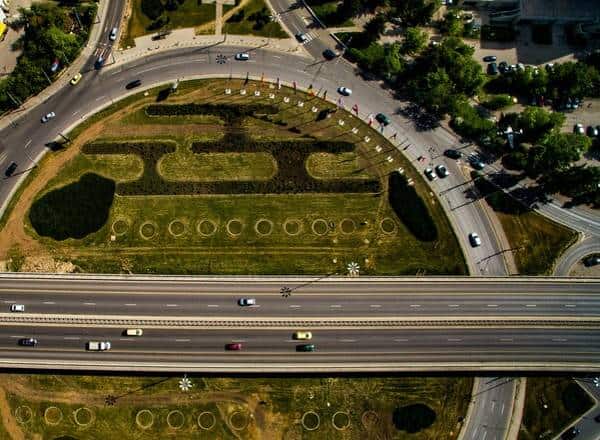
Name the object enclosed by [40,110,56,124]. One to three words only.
vehicle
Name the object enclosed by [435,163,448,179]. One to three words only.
vehicle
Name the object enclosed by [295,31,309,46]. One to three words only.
car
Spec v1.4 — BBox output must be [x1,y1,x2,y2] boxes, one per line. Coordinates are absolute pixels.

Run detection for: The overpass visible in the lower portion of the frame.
[0,273,600,373]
